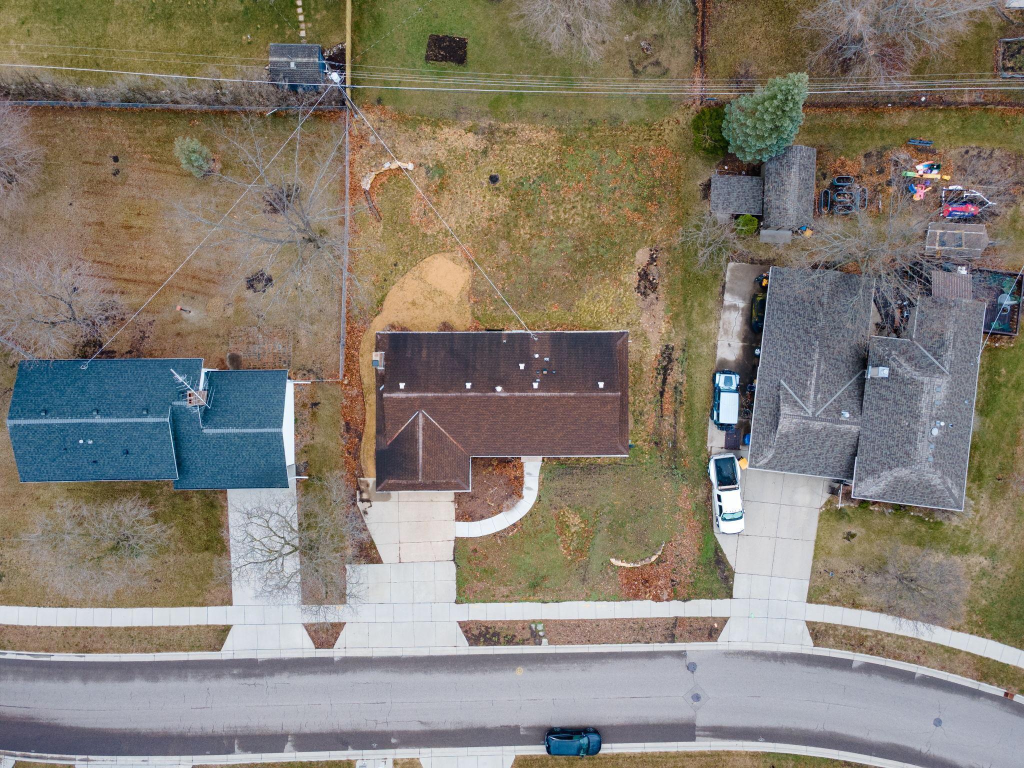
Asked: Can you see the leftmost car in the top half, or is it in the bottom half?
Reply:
bottom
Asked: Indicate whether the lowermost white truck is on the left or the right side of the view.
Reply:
right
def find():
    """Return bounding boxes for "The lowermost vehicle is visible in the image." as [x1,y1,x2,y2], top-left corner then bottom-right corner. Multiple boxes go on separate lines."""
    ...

[544,728,601,761]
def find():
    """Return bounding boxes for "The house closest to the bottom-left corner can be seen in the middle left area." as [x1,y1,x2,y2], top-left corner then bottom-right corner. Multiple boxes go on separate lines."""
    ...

[5,357,308,491]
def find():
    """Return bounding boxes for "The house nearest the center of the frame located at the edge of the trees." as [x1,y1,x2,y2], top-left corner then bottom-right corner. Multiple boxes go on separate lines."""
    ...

[372,326,634,493]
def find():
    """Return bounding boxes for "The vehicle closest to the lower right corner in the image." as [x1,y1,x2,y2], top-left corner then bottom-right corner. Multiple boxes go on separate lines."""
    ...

[706,451,748,534]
